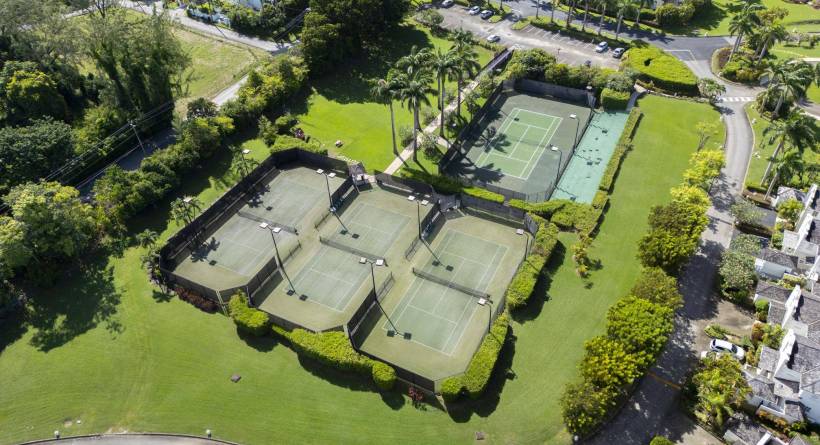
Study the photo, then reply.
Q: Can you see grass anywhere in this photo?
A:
Yes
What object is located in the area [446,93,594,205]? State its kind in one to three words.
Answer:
tennis court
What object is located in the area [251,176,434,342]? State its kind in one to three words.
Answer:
tennis court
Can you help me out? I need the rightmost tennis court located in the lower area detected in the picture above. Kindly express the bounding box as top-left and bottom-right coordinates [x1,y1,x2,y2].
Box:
[346,201,533,395]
